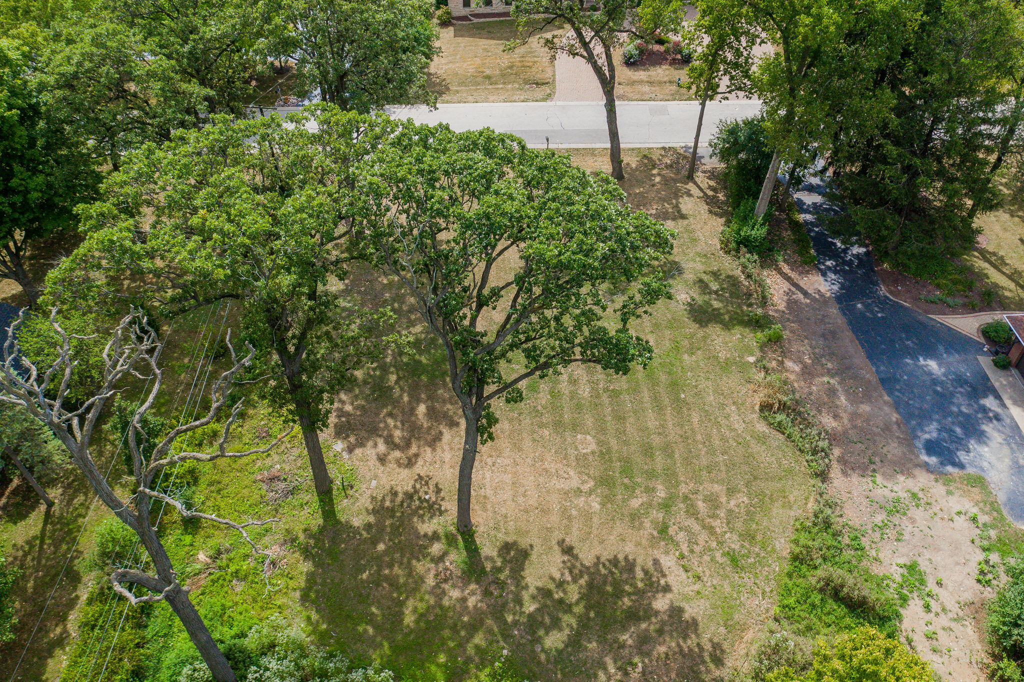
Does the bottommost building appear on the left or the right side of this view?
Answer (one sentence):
The bottommost building appears in the right half of the scene.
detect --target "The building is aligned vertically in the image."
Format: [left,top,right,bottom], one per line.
[994,309,1024,379]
